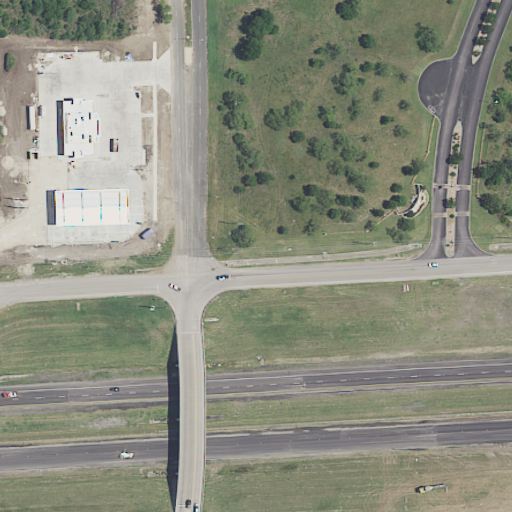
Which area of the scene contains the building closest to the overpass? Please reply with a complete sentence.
The building closest to the overpass sits in the left section of the image.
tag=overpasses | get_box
[176,321,206,512]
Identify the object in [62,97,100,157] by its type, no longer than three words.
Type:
building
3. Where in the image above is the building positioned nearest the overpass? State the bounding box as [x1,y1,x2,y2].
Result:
[54,190,128,226]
